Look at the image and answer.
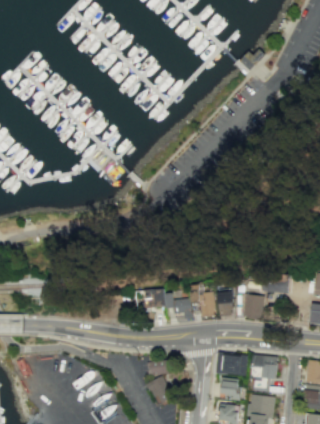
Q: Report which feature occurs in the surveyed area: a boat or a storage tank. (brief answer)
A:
boat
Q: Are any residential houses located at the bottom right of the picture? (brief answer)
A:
Yes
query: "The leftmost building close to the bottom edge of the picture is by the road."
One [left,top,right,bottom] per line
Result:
[147,361,167,405]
